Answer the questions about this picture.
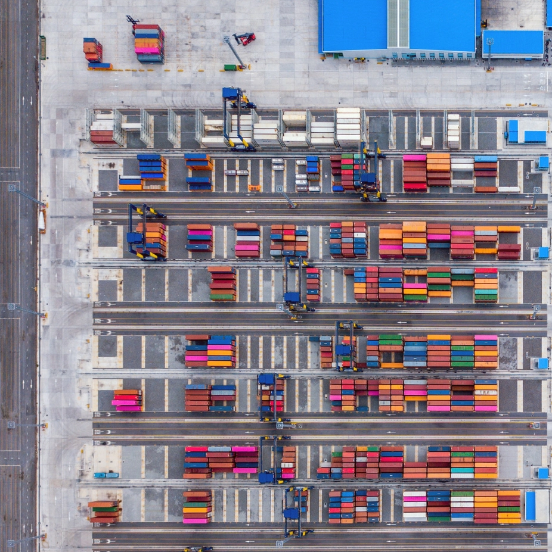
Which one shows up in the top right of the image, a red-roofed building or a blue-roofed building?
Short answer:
blue-roofed building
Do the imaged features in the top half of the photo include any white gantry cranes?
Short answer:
No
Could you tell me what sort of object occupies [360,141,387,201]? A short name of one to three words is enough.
container crane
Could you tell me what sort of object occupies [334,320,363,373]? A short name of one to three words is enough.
container crane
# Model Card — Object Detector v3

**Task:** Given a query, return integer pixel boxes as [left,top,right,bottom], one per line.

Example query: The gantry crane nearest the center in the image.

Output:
[282,256,315,311]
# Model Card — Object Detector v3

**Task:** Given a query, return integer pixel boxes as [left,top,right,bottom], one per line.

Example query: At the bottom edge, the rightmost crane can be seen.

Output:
[281,485,313,537]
